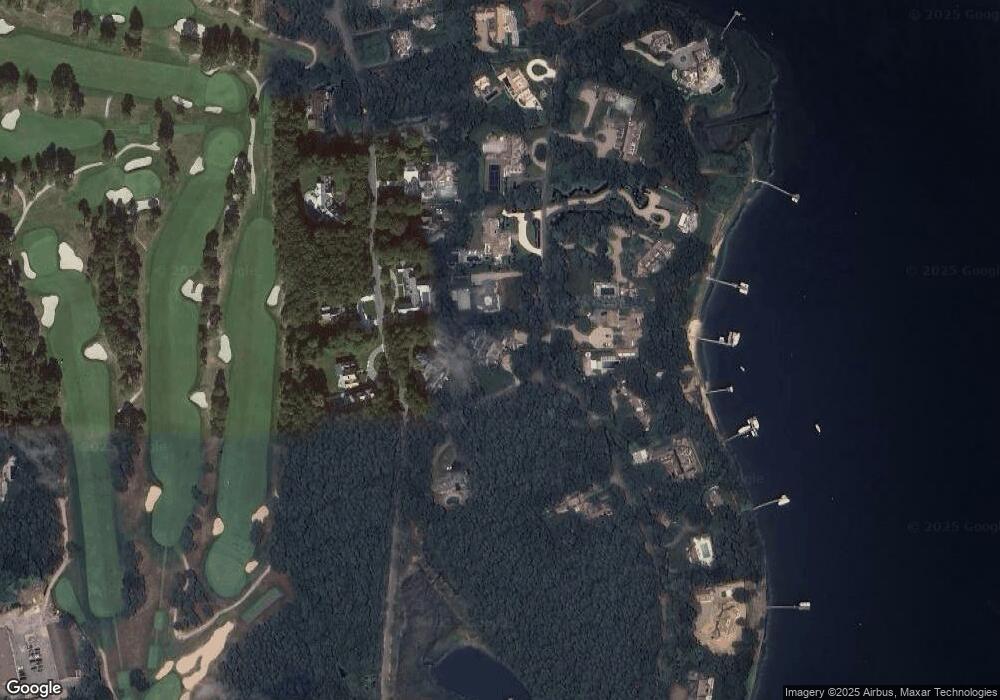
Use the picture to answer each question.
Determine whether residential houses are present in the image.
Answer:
Yes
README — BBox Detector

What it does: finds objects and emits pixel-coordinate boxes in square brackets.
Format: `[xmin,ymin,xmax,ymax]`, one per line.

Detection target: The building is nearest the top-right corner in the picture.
[684,40,724,94]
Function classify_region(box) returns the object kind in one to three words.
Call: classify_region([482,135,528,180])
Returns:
house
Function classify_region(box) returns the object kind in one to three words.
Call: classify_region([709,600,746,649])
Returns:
house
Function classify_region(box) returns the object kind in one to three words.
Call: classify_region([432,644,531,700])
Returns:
pond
